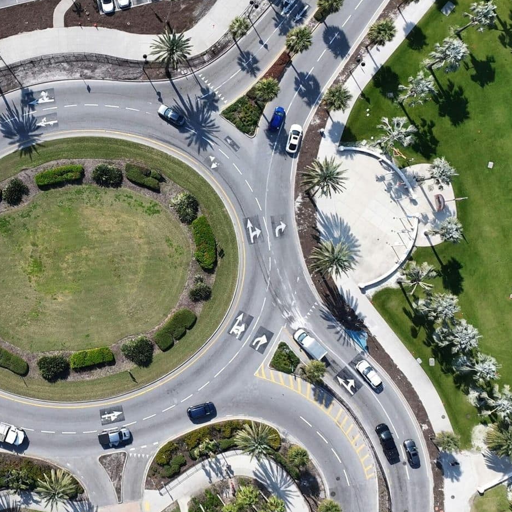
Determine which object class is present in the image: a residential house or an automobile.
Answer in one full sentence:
It is an automobile that can be seen here.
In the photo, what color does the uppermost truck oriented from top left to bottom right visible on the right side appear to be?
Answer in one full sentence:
From above, the uppermost truck oriented from top left to bottom right visible on the right side appears white.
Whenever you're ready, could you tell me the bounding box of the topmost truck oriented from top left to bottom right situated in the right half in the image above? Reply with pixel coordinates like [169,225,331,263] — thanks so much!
[293,327,331,365]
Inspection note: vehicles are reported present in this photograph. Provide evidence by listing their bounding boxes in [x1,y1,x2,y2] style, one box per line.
[401,436,420,469]
[268,106,283,133]
[185,403,216,420]
[356,359,382,390]
[98,429,131,445]
[157,104,187,127]
[284,123,302,155]
[0,420,28,444]
[99,0,114,16]
[375,424,397,464]
[117,0,129,10]
[293,327,331,365]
